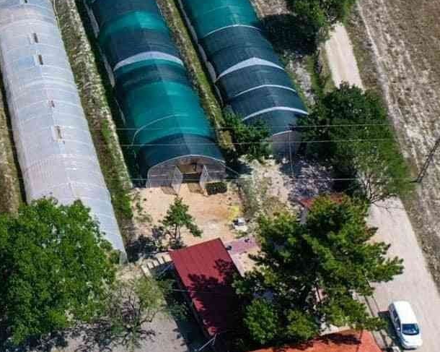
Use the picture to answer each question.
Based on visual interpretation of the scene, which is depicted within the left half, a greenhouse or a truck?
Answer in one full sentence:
There is a greenhouse within the left half.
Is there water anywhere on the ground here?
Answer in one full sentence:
No, there is no water in the image.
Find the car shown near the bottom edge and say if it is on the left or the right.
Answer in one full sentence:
It is on the right.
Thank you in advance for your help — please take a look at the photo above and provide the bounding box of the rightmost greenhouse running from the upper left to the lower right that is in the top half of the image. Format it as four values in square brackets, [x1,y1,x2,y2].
[181,0,325,156]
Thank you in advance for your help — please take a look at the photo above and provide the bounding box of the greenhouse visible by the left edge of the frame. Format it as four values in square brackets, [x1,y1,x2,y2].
[0,0,132,264]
